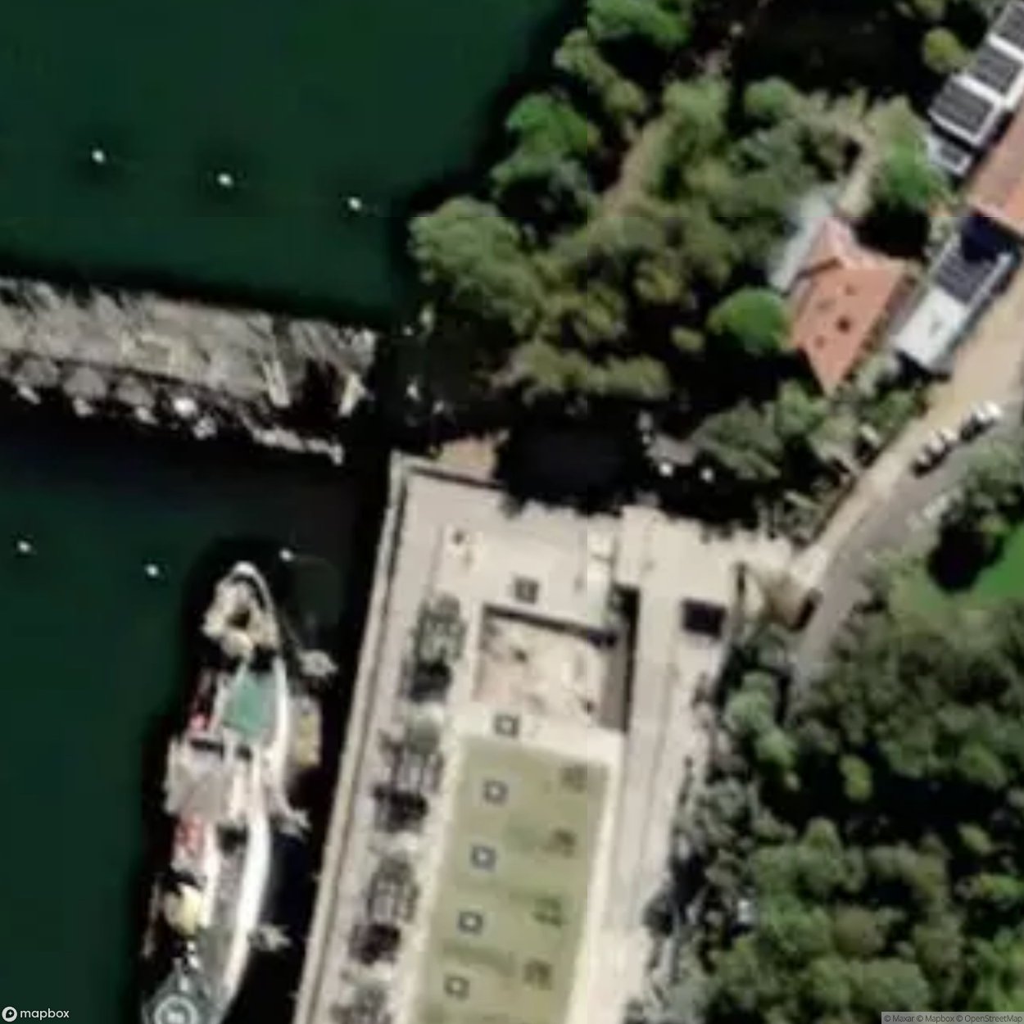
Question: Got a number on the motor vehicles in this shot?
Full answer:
The photo contains 2 motor vehicles.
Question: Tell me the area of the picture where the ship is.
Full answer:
The ship appears toward the bottom left of the photo.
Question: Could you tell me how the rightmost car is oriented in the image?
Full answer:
What the image shows is the rightmost car lying at an angle.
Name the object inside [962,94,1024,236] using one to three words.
house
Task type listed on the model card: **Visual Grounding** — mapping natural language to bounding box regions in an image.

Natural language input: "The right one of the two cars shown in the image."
[959,396,1005,438]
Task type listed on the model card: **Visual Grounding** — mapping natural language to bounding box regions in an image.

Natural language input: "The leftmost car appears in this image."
[915,431,961,473]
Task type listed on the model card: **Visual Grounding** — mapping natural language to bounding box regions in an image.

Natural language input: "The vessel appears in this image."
[137,562,292,1024]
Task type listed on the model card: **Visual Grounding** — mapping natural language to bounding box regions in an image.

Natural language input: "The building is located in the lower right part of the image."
[735,898,763,920]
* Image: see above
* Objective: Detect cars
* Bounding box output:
[959,396,1005,438]
[915,431,961,473]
